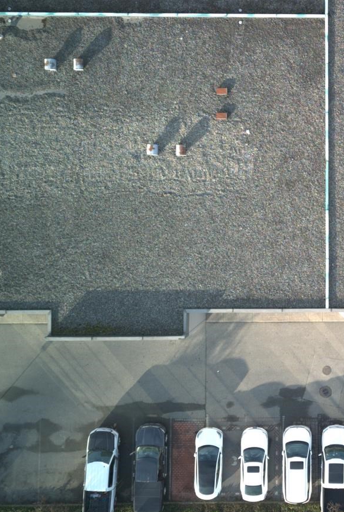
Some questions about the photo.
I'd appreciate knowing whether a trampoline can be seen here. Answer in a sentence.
No, I can see no trampoline in this picture.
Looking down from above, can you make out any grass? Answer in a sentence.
No, the picture contains no grass.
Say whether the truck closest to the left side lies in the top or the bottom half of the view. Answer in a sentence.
The truck closest to the left side sits in the bottom half of the picture.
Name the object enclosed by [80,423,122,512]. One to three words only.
truck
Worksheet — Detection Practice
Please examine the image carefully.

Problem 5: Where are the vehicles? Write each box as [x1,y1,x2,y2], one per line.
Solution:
[190,423,226,499]
[237,423,273,500]
[80,423,122,512]
[131,421,170,512]
[317,421,344,512]
[278,422,315,504]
